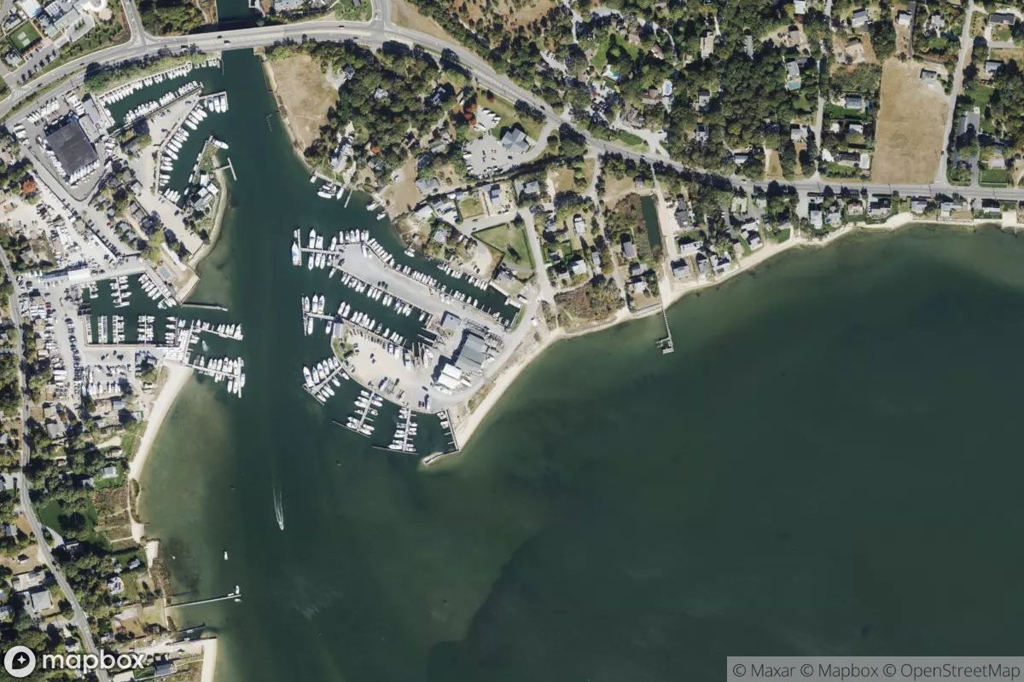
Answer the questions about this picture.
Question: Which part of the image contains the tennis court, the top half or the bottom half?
top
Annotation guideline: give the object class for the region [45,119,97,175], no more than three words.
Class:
shed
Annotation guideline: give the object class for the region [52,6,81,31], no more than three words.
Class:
building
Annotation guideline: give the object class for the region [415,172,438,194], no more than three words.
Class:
house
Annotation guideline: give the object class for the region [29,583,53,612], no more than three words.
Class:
house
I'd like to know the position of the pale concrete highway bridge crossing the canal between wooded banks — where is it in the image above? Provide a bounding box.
[210,26,263,50]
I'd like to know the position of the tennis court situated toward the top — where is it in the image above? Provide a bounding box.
[8,20,41,51]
